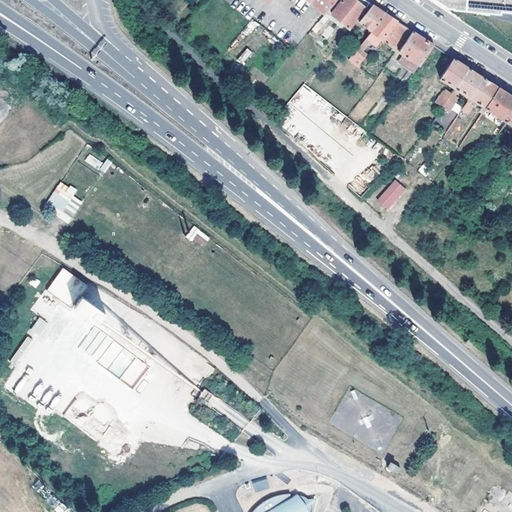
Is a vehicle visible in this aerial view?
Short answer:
Yes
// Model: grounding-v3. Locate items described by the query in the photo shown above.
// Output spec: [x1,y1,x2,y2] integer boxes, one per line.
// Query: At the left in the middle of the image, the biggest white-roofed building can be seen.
[48,268,87,306]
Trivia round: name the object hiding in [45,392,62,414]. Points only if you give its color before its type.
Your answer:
white vehicle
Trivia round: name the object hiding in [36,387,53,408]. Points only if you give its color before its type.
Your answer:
white vehicle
